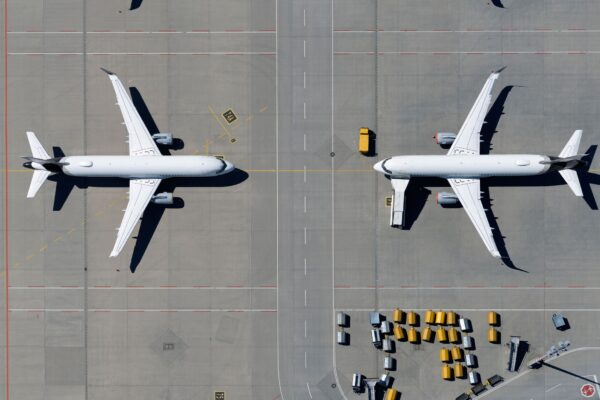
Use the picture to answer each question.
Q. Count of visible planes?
2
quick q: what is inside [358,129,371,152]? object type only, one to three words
vehicle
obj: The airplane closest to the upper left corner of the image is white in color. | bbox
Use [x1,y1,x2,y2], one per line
[21,68,236,258]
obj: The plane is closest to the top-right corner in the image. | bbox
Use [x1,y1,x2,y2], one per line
[373,68,588,257]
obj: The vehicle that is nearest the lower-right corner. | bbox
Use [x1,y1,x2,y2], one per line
[550,312,566,330]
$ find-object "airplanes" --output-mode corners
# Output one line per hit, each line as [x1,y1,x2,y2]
[21,68,236,258]
[373,68,588,257]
